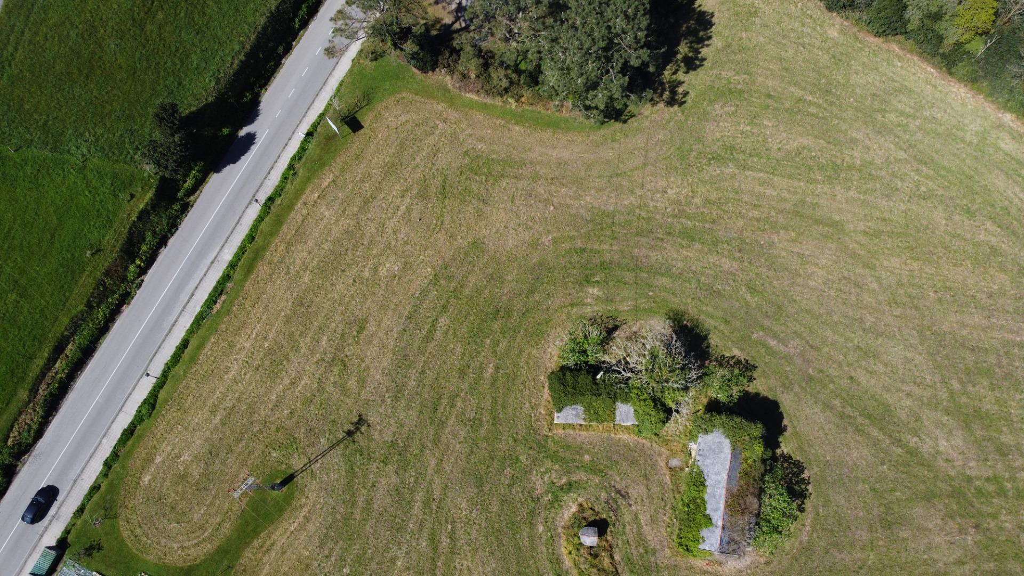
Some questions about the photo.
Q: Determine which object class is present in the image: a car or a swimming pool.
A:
car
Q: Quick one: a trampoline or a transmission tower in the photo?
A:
transmission tower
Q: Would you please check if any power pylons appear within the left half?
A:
Yes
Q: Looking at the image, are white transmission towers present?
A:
No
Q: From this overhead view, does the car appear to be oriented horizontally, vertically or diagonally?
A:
diagonally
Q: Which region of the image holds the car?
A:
bottom left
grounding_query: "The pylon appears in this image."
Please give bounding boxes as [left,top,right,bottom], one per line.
[227,470,282,505]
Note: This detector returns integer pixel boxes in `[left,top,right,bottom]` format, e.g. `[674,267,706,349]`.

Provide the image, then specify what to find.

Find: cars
[17,483,57,529]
